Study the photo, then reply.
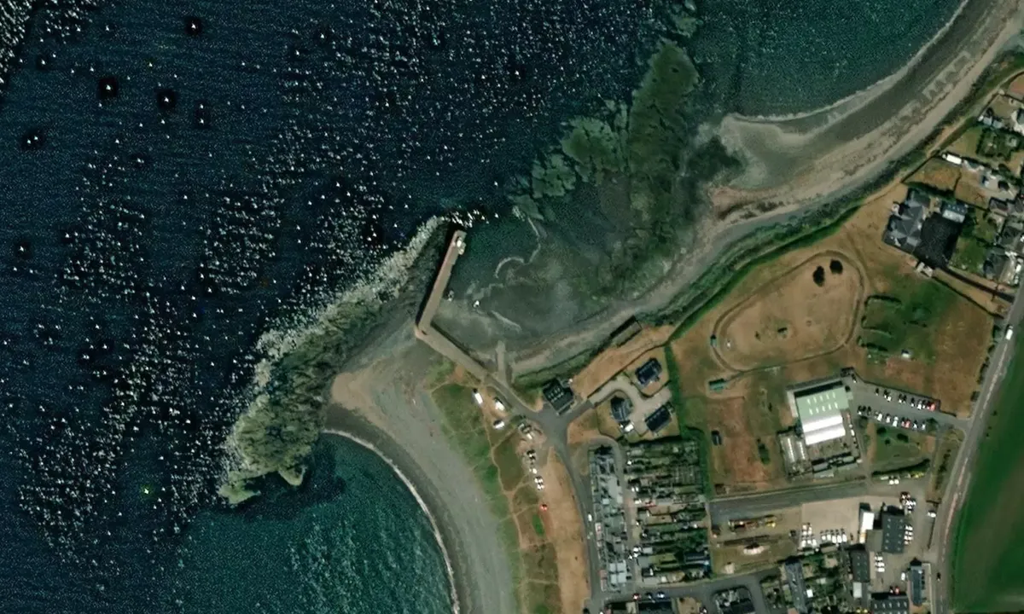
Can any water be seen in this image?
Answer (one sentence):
Yes, there's water in this view.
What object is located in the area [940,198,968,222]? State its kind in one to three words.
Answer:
shed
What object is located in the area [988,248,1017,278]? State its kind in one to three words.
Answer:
house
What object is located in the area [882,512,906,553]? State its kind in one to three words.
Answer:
building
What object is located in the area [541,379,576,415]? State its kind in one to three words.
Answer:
building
